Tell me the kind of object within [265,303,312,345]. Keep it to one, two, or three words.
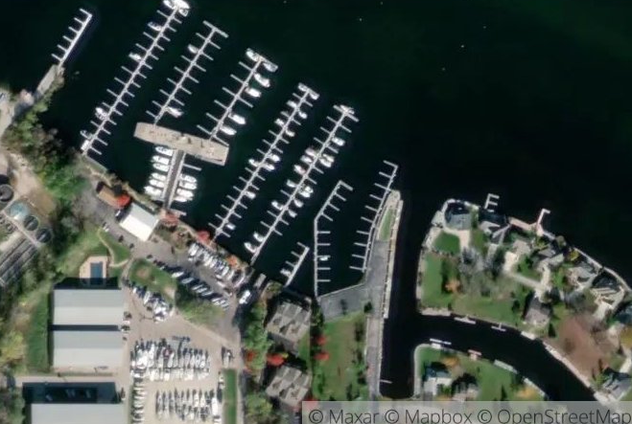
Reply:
house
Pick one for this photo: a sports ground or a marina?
marina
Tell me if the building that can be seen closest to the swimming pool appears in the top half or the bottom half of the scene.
bottom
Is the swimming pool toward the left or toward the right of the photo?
left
